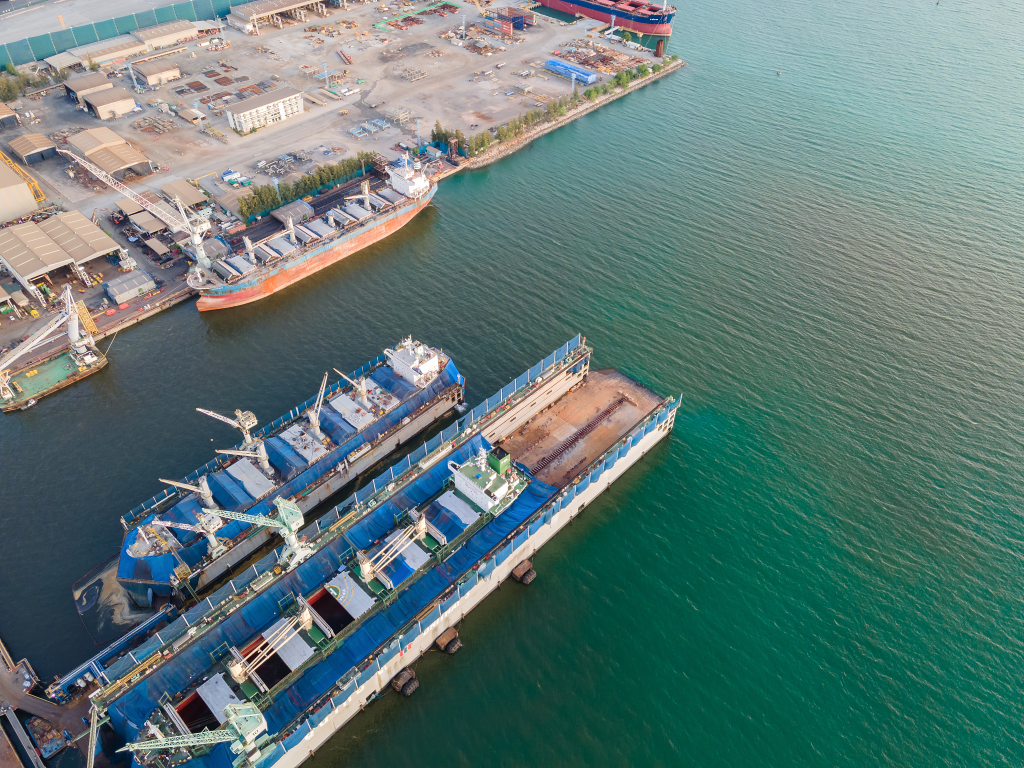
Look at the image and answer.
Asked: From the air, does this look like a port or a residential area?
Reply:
port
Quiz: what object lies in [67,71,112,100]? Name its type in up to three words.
building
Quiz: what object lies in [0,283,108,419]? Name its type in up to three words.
ship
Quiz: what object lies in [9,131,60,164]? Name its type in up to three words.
building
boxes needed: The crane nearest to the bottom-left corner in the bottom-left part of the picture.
[123,712,267,768]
